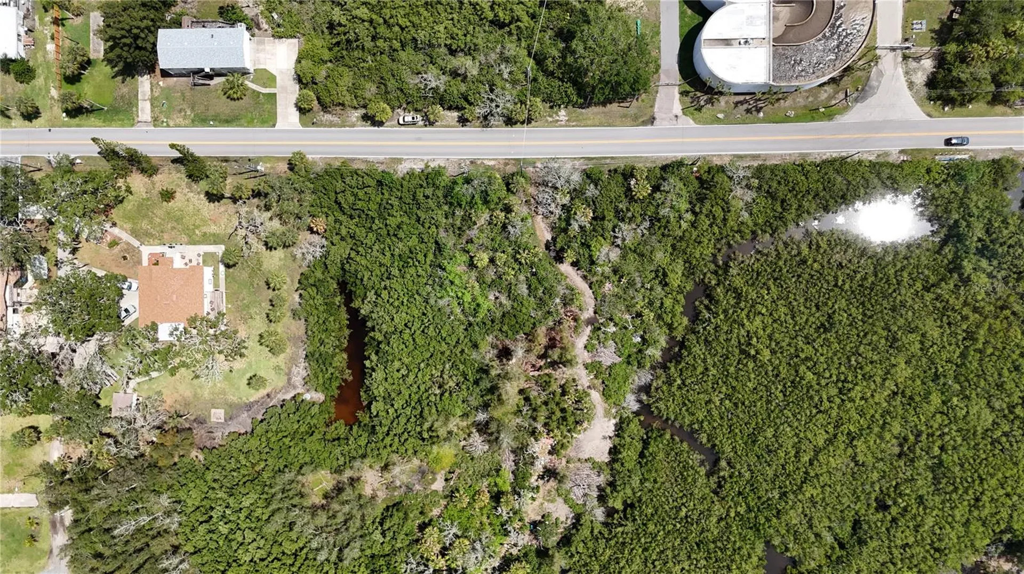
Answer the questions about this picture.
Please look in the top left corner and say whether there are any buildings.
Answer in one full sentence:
Yes, the scene does show a building in the top left corner.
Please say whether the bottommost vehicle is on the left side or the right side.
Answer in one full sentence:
The bottommost vehicle is on the left side of the image.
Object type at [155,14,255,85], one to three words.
house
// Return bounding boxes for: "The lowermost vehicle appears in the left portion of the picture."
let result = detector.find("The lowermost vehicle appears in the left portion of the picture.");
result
[112,301,138,324]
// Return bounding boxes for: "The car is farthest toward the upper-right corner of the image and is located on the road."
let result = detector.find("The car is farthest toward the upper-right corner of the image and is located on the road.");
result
[946,134,971,146]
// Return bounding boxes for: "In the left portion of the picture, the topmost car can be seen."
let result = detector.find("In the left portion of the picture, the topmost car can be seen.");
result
[397,112,421,125]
